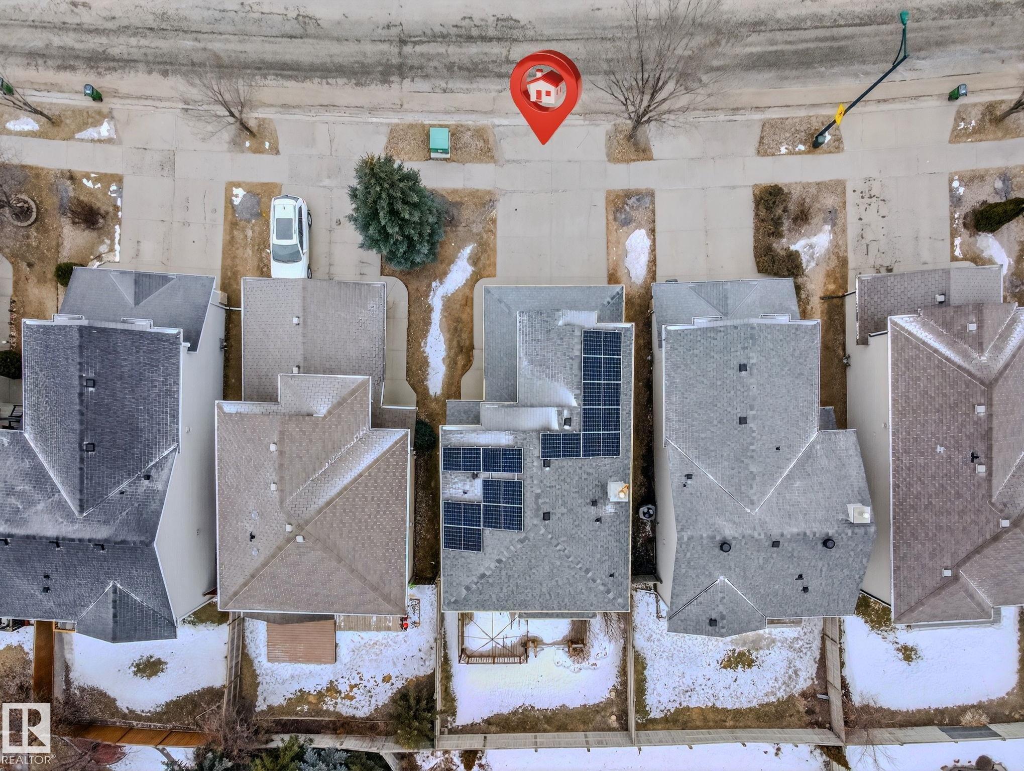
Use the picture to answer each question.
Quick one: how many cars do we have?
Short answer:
one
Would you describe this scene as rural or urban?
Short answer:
urban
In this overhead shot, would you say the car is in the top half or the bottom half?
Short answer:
top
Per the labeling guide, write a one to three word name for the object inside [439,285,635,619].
house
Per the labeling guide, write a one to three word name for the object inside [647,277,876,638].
house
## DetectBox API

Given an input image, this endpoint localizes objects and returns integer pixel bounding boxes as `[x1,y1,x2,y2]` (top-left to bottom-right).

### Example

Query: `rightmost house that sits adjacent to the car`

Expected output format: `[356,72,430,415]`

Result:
[215,277,421,625]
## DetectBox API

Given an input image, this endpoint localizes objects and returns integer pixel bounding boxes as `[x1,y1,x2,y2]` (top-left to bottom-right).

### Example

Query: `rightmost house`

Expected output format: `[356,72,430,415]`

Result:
[821,266,1024,626]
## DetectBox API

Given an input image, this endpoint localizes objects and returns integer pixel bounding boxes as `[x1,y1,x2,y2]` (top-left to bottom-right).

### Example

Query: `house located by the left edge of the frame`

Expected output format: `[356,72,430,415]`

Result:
[0,266,241,644]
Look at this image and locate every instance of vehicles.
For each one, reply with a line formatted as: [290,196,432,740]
[266,197,310,279]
